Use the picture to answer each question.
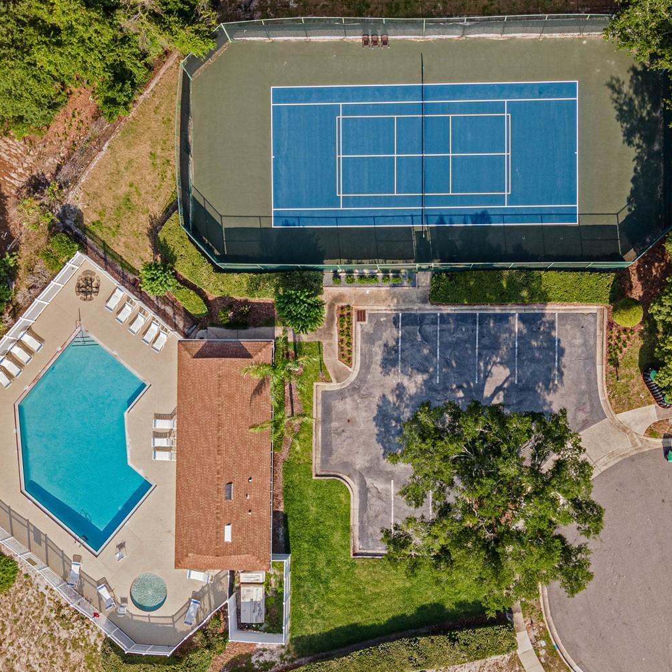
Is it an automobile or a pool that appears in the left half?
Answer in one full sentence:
The feature located in the left half is a pool.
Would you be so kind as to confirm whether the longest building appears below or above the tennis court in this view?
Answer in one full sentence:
As seen from overhead, the longest building falls below the tennis court in the picture.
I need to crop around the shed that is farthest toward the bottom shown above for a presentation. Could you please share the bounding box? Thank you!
[241,581,267,622]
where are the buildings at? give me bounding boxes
[177,338,275,571]
[241,581,267,622]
